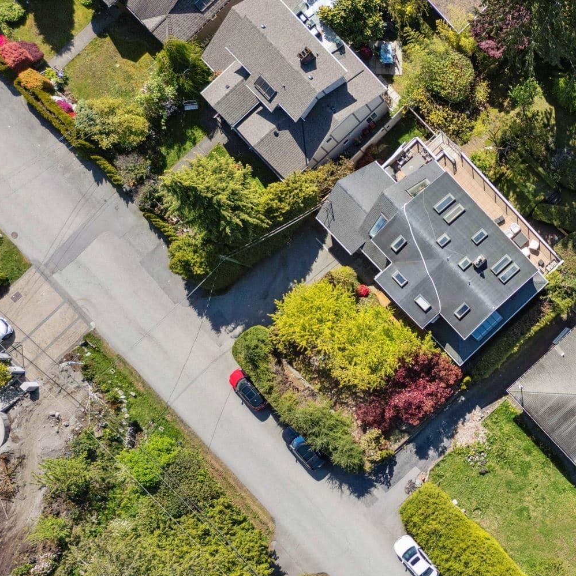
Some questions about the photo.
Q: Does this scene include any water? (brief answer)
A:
No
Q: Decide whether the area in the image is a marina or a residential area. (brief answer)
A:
residential area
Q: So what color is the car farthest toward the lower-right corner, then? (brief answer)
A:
white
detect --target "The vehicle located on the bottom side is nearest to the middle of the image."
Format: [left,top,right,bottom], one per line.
[231,366,269,416]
